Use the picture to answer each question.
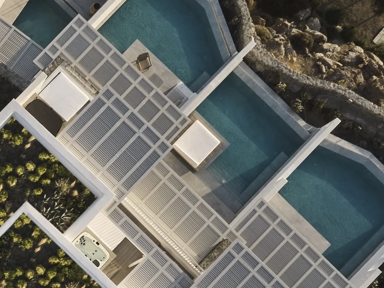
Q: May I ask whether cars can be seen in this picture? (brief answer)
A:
No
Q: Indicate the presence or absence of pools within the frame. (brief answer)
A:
Yes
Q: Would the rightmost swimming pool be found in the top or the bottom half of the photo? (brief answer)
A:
bottom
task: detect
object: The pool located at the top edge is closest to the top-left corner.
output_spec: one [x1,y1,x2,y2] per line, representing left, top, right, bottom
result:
[12,0,78,49]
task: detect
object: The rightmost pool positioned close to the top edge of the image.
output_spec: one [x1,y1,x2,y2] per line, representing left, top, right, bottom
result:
[102,0,234,92]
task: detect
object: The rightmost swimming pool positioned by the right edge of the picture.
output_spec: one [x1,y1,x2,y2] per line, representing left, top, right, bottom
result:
[274,133,384,282]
